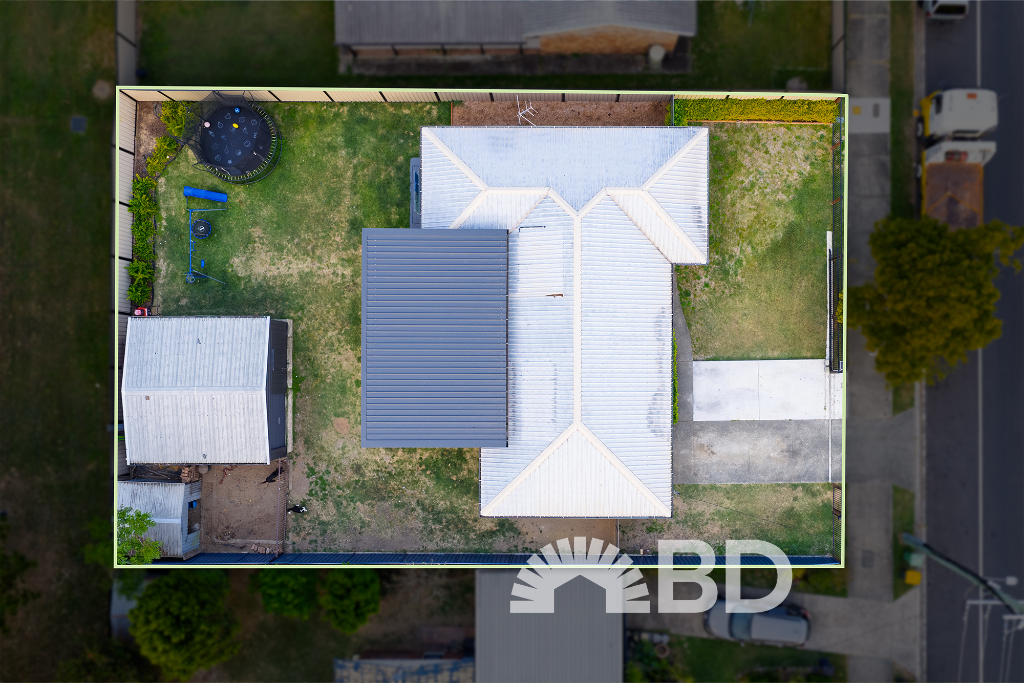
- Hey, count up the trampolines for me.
one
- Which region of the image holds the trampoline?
top left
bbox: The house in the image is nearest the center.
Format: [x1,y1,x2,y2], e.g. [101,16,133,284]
[418,123,711,520]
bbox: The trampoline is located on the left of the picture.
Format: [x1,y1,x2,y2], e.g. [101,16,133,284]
[181,90,282,184]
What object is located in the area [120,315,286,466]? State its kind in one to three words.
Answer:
shed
